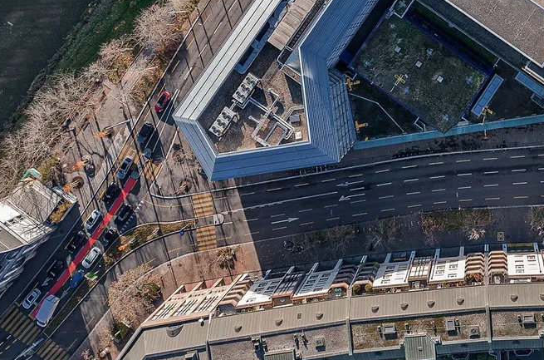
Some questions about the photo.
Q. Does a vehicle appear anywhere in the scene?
Yes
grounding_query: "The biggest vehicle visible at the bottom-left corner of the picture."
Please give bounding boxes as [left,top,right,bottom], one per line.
[35,289,61,323]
